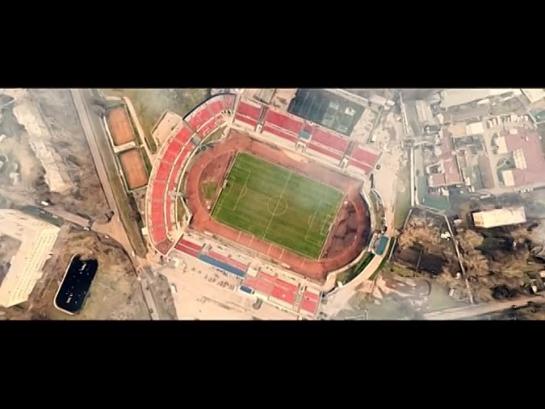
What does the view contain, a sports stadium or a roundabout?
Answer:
sports stadium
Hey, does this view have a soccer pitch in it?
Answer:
Yes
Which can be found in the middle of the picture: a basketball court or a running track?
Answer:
running track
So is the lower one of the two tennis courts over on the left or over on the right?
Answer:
left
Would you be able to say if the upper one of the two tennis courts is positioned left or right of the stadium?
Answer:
on the left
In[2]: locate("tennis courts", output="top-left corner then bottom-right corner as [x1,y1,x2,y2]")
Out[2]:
[117,147,147,189]
[106,104,134,146]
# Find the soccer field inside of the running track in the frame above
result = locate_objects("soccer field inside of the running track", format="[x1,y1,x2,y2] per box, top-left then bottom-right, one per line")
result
[211,151,345,263]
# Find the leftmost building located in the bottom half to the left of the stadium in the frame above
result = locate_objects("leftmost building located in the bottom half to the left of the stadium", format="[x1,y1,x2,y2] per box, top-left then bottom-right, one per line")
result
[0,205,60,306]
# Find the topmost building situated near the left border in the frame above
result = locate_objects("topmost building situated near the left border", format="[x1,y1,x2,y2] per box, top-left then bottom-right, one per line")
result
[14,99,80,191]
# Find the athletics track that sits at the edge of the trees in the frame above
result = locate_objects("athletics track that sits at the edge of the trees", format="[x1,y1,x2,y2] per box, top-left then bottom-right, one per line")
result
[188,139,368,275]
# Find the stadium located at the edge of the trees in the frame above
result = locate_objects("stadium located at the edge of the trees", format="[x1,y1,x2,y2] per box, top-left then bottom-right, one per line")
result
[145,94,382,317]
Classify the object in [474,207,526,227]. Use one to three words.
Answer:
building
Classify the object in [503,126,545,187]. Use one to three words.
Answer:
building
